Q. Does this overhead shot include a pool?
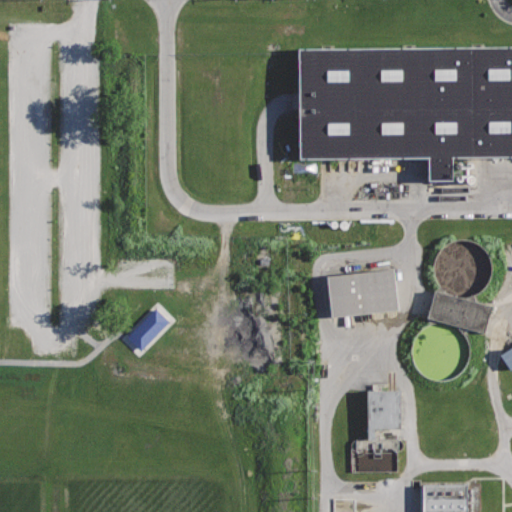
No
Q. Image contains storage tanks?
Yes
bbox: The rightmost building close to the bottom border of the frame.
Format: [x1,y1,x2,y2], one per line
[423,484,468,512]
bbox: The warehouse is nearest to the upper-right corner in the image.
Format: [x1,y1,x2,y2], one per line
[300,46,512,182]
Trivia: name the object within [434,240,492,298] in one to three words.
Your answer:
storage tank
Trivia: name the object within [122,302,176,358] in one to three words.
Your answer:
building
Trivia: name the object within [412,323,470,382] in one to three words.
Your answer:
storage tank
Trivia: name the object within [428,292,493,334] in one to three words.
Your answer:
building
